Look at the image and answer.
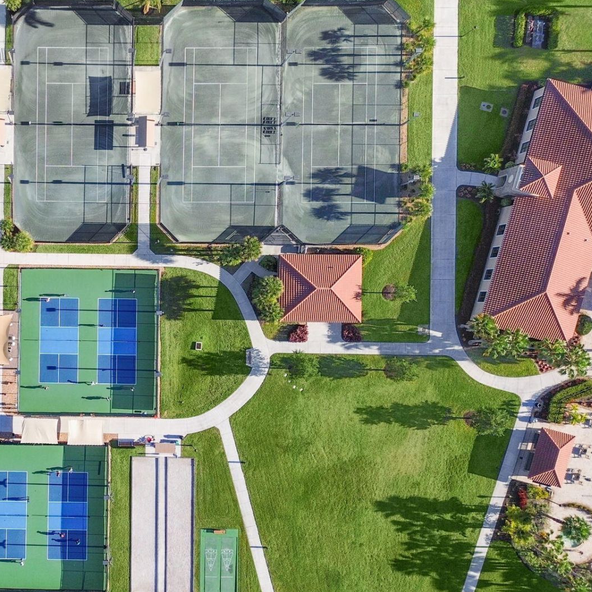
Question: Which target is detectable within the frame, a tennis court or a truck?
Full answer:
Of the two, only a tennis court appears.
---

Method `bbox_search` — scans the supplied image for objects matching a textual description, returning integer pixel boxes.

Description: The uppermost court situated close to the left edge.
[13,6,133,242]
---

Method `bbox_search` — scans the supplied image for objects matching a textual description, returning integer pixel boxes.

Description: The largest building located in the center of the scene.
[276,253,363,324]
